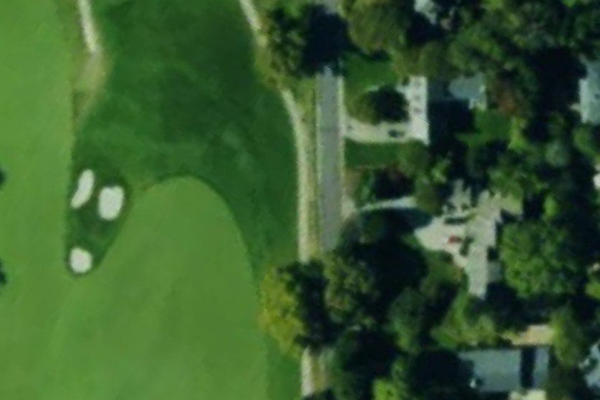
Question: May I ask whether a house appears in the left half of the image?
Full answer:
No, no house is visible in the left half of the image.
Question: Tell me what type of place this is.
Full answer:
The area seen from above is a golf course.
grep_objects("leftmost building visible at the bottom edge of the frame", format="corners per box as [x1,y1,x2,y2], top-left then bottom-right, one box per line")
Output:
[460,346,549,392]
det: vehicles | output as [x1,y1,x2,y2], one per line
[444,235,461,244]
[385,131,402,138]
